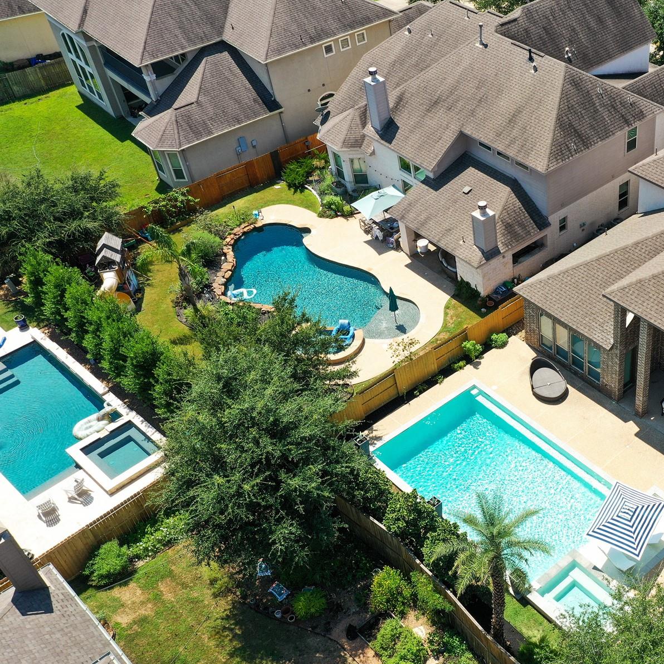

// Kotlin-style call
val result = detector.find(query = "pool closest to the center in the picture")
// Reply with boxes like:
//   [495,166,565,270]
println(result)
[226,219,424,357]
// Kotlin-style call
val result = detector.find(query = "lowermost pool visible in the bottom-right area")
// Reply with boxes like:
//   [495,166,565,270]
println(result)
[362,378,664,645]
